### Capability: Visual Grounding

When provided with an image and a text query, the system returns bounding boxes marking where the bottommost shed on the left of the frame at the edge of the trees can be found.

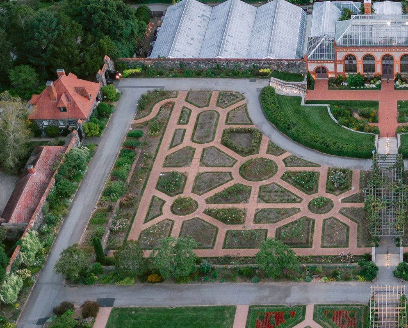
[0,146,64,238]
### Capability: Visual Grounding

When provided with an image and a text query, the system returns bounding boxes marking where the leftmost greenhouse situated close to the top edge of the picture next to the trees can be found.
[149,0,309,60]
